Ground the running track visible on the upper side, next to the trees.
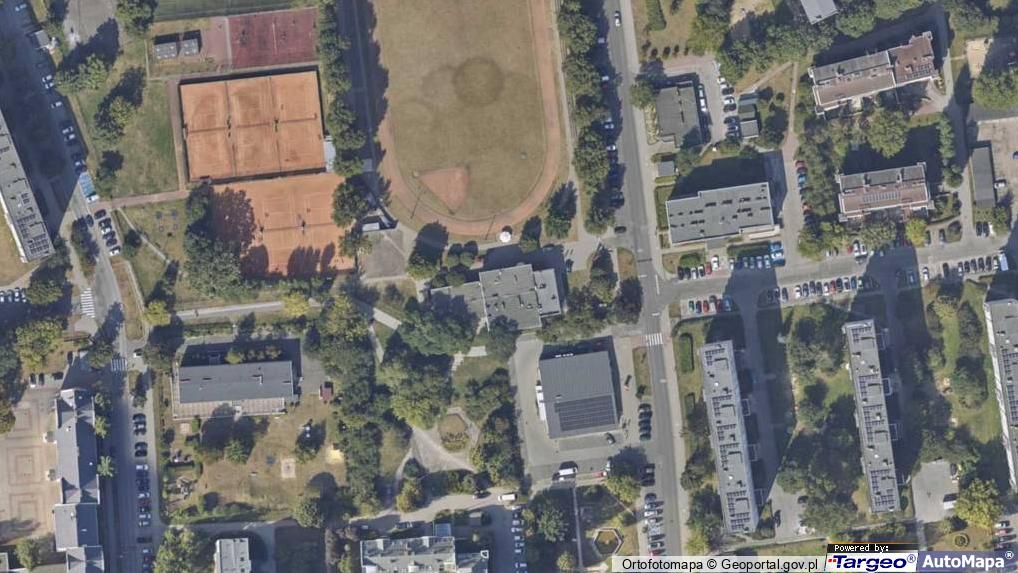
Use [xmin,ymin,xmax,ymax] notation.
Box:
[364,0,563,236]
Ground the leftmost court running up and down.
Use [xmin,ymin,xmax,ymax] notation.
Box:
[182,81,235,179]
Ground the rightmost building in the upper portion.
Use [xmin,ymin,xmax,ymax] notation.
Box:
[972,147,995,207]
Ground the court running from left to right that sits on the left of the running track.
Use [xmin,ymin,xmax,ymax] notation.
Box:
[191,9,320,71]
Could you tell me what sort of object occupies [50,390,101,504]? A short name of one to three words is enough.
building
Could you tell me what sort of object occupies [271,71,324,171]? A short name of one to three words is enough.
tennis court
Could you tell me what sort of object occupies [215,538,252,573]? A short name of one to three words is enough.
house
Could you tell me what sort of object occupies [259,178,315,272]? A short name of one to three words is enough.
tennis court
